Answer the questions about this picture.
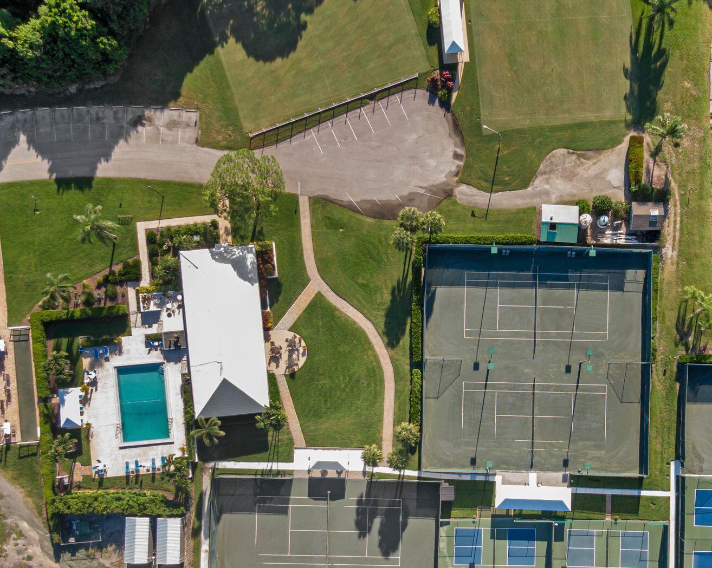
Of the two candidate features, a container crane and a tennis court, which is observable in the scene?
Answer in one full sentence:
Of the two, only a tennis court appears.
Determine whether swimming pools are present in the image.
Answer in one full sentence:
Yes, I can see a swimming pool in this picture.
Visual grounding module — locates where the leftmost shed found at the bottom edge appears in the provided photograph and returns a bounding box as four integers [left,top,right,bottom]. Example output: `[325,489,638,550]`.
[124,517,154,565]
